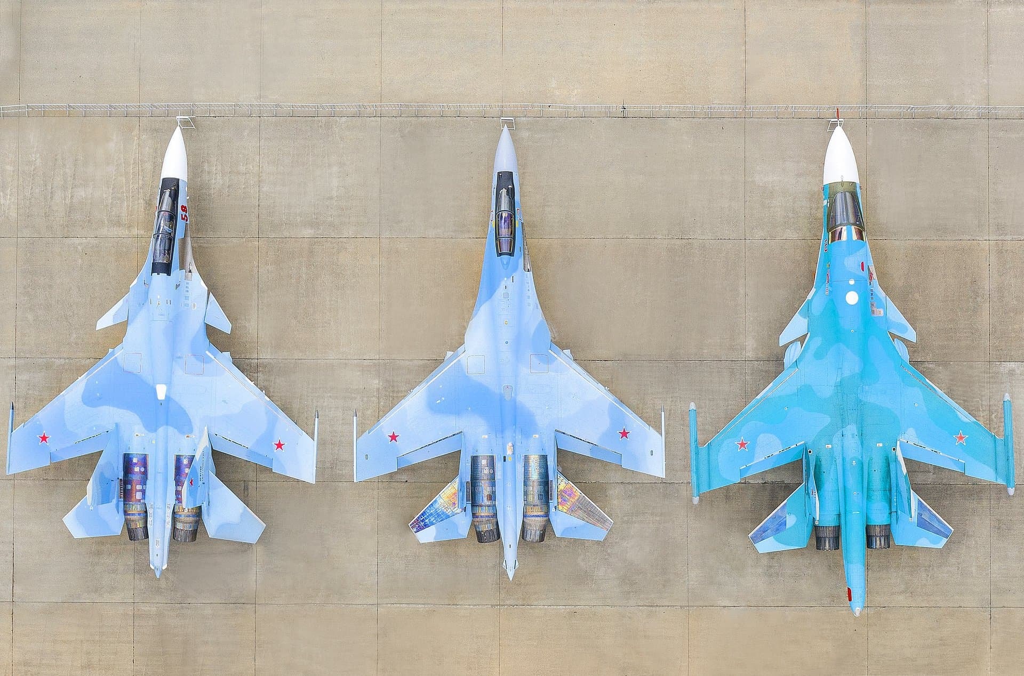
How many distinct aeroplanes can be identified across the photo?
3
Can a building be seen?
No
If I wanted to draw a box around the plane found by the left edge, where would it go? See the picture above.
[6,111,319,578]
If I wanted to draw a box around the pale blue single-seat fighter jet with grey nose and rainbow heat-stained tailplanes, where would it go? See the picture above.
[353,125,665,580]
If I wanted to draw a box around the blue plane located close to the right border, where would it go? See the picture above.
[689,108,1015,617]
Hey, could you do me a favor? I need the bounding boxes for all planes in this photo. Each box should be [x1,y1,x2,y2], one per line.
[689,108,1015,617]
[6,111,319,578]
[353,125,665,580]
